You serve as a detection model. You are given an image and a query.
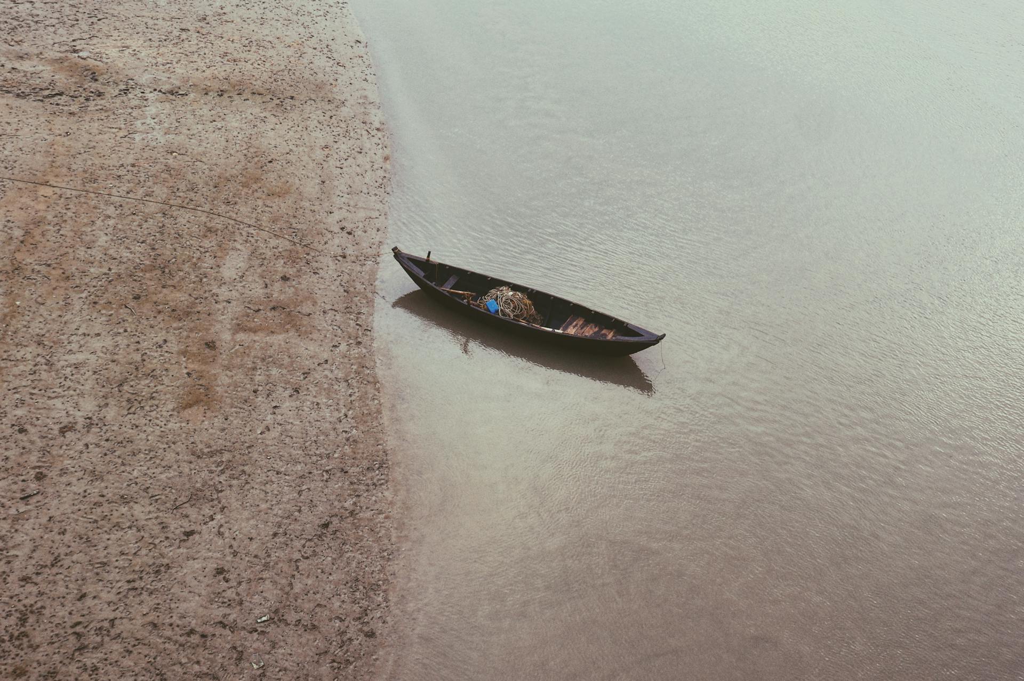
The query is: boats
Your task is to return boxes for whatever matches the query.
[388,245,670,359]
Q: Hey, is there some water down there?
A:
Yes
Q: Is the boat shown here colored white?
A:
No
